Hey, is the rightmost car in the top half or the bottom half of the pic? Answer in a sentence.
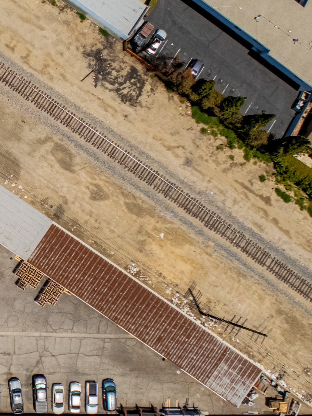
Seen from above, the rightmost car lies in the top half of the view.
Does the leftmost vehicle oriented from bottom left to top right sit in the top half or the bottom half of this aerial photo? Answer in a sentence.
The leftmost vehicle oriented from bottom left to top right is in the top half of the image.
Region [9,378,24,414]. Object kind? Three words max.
vehicle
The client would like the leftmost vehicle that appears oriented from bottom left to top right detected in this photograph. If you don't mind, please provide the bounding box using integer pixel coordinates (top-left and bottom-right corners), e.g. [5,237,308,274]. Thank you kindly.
[131,17,157,50]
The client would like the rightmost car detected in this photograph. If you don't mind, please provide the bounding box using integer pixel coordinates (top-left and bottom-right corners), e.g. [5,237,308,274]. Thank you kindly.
[186,52,209,82]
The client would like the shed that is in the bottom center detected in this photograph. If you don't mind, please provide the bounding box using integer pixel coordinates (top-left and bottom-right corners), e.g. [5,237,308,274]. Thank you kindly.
[27,223,263,408]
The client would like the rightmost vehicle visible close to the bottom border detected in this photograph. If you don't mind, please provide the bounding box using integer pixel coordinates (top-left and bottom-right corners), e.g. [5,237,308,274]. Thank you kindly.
[101,378,117,412]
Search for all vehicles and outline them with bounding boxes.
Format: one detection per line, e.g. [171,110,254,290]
[101,378,117,412]
[186,52,209,82]
[144,27,169,57]
[69,381,83,413]
[131,17,157,50]
[33,373,48,414]
[9,378,24,414]
[85,379,100,414]
[51,382,65,414]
